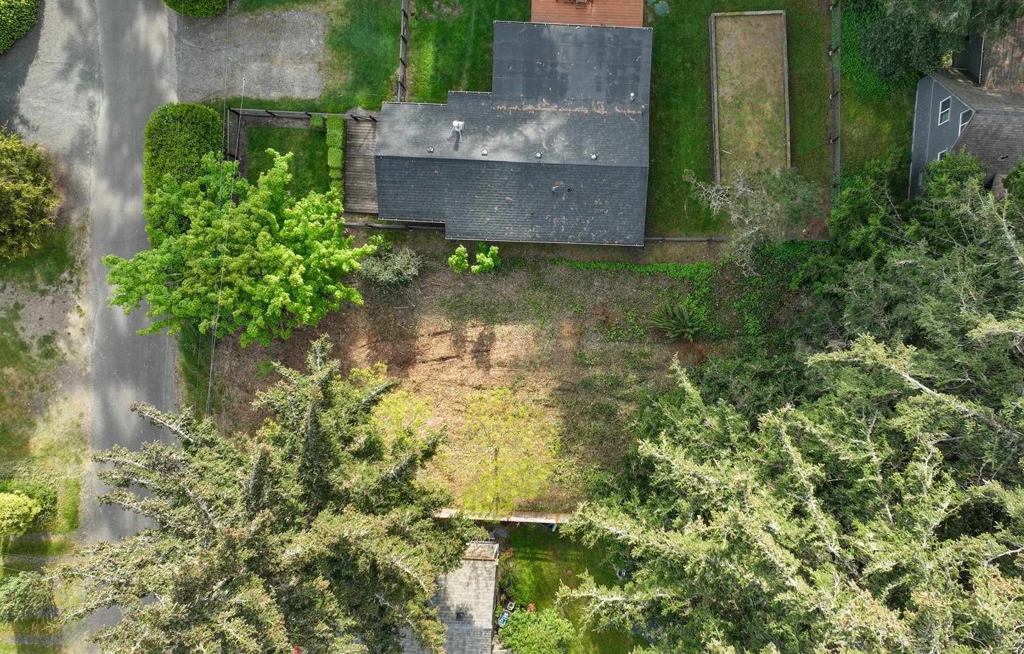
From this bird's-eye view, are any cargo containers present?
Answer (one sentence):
No, the picture doesn't show any cargo container.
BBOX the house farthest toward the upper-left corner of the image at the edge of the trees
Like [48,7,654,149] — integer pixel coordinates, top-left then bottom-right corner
[372,20,651,251]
